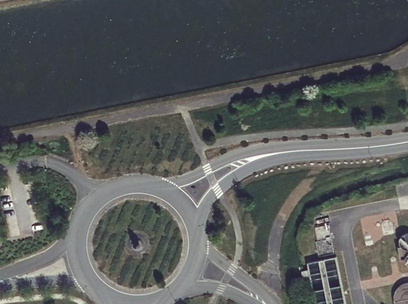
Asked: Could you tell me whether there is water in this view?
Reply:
Yes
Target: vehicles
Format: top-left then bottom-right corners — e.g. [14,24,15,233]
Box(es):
[3,210,15,216]
[2,202,14,209]
[0,196,12,203]
[31,225,42,232]
[24,199,36,206]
